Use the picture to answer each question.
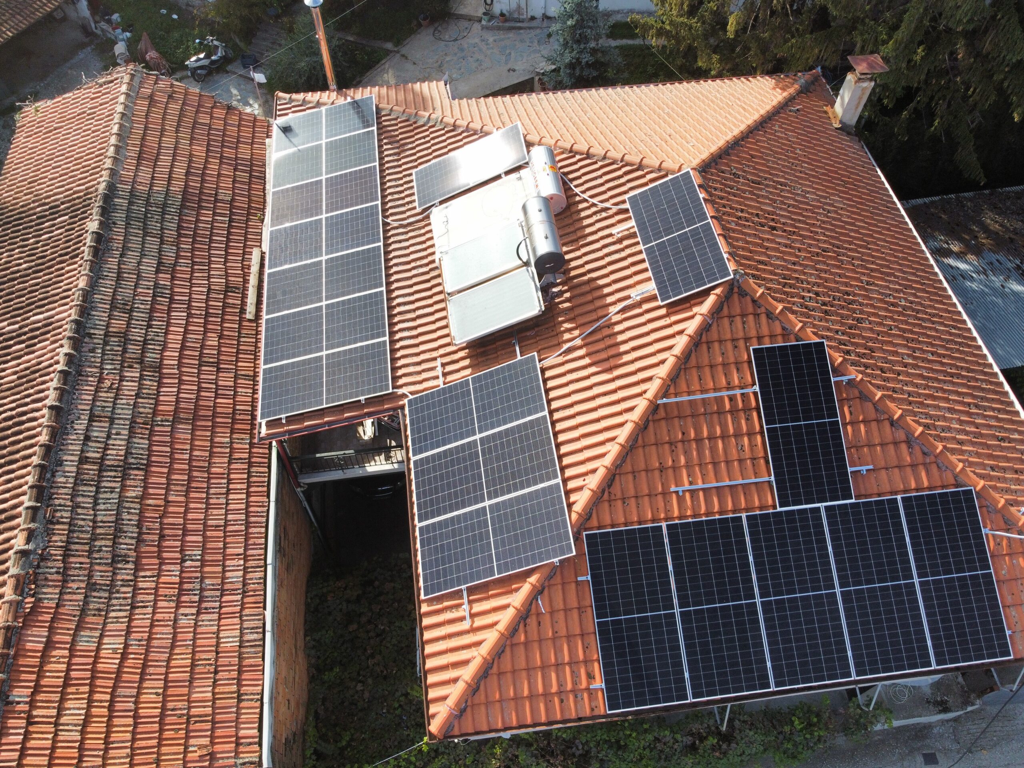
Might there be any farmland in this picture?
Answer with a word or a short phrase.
No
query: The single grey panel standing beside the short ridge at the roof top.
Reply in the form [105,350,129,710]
[627,169,733,306]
